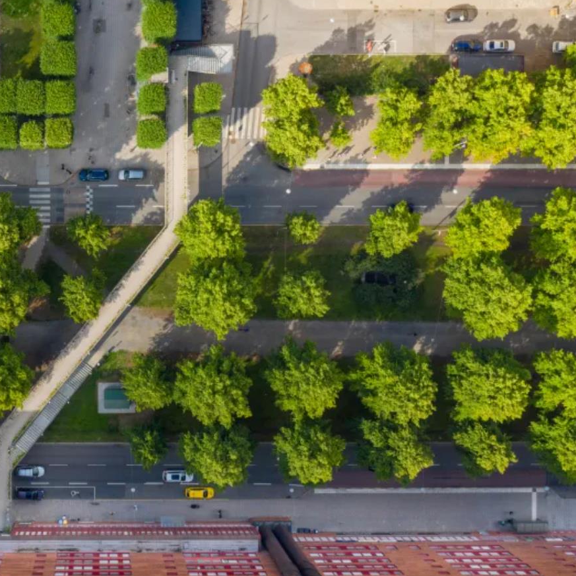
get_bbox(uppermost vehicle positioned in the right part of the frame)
[445,6,476,22]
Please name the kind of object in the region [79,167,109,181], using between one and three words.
car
